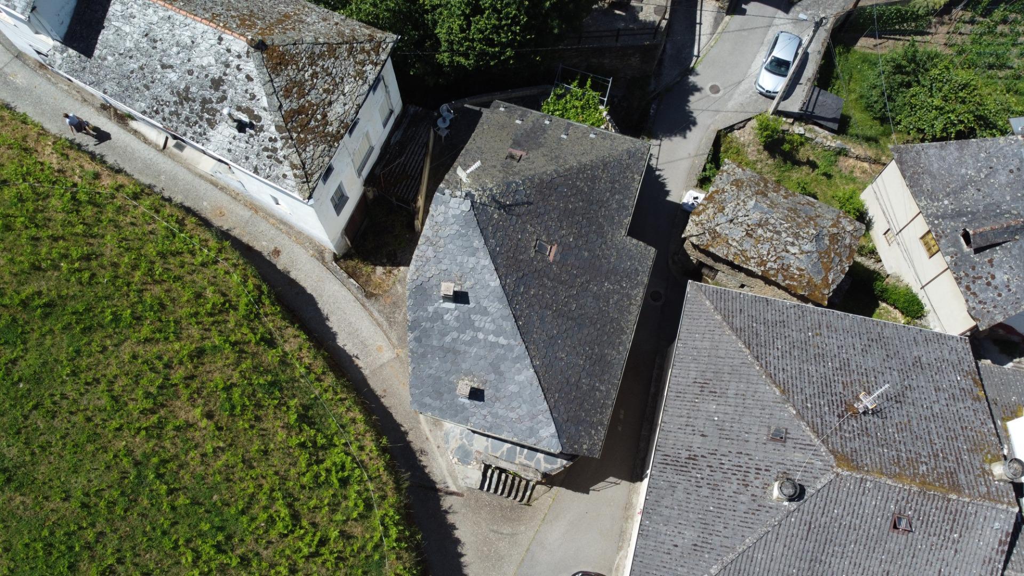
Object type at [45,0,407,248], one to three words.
house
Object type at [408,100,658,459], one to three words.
house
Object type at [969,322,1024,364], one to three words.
shed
